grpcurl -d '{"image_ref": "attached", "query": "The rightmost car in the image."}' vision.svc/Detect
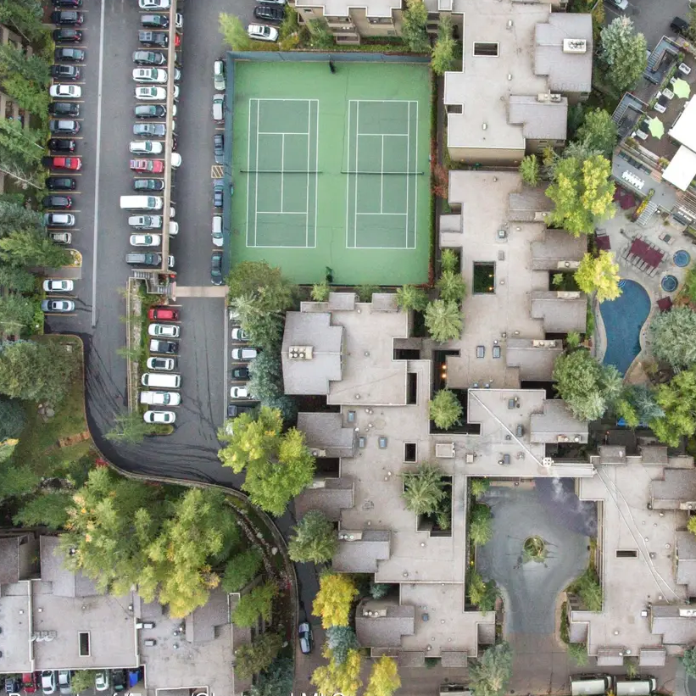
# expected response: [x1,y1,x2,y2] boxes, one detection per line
[666,14,690,38]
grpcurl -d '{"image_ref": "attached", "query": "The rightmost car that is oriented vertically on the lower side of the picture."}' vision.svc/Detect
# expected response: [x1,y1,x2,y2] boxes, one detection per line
[297,621,314,653]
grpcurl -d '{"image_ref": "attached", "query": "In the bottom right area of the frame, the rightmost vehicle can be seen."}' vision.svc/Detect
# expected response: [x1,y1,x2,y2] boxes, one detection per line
[612,674,656,696]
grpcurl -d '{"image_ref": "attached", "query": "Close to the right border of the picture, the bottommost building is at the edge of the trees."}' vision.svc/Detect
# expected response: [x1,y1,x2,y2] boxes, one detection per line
[563,438,696,665]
